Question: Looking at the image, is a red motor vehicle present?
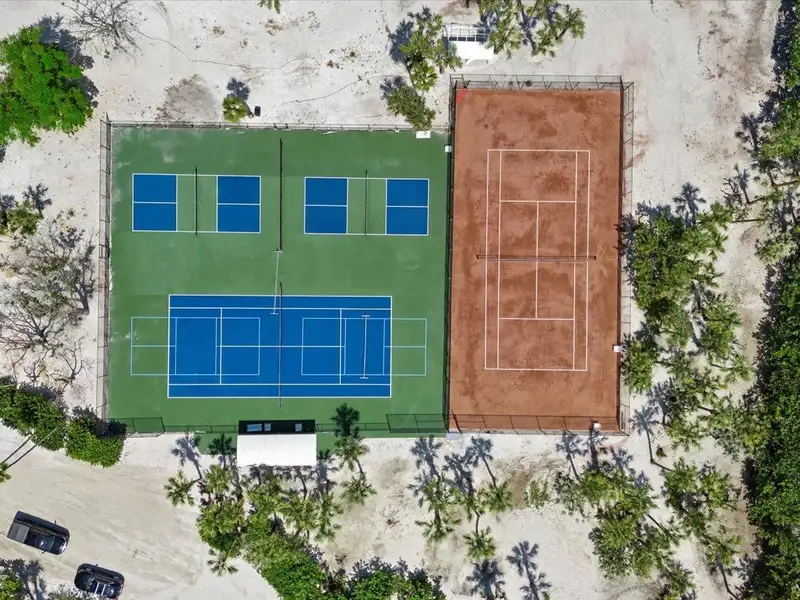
No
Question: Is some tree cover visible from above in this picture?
Yes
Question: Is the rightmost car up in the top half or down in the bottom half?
bottom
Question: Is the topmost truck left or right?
left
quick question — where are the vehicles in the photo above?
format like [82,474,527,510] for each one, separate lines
[76,569,125,599]
[9,521,66,554]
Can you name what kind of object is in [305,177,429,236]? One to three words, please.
sports court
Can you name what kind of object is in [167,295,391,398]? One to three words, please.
tennis court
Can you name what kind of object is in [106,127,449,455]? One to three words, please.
sports court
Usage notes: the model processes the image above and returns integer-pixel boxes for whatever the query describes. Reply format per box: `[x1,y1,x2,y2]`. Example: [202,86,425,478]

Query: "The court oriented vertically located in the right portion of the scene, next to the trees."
[451,88,620,430]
